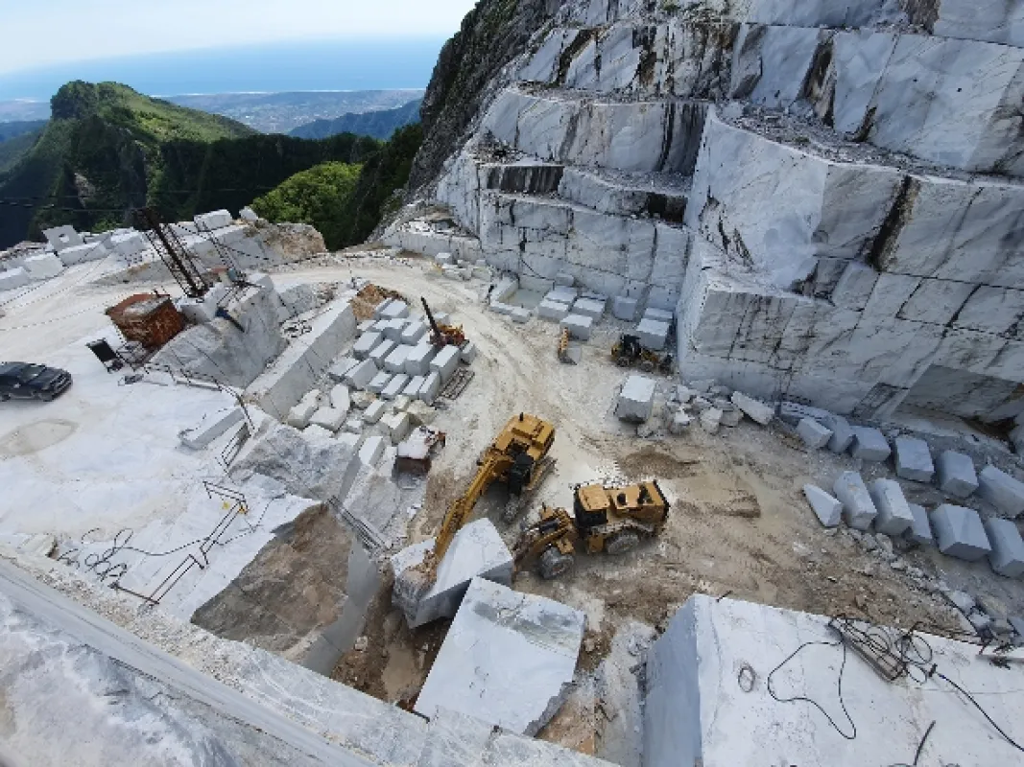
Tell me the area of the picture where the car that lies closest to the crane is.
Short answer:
left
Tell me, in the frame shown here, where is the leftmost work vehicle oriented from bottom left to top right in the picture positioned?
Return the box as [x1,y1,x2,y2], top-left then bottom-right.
[391,418,559,618]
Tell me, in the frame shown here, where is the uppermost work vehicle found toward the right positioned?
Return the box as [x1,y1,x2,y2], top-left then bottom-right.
[602,338,673,382]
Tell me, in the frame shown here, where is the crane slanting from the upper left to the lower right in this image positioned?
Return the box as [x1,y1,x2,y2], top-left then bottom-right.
[123,198,219,301]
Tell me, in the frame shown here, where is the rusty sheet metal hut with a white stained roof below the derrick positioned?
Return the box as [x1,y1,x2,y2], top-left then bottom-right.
[104,283,190,349]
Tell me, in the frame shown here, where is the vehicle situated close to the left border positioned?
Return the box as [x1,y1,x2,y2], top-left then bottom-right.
[0,350,77,406]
